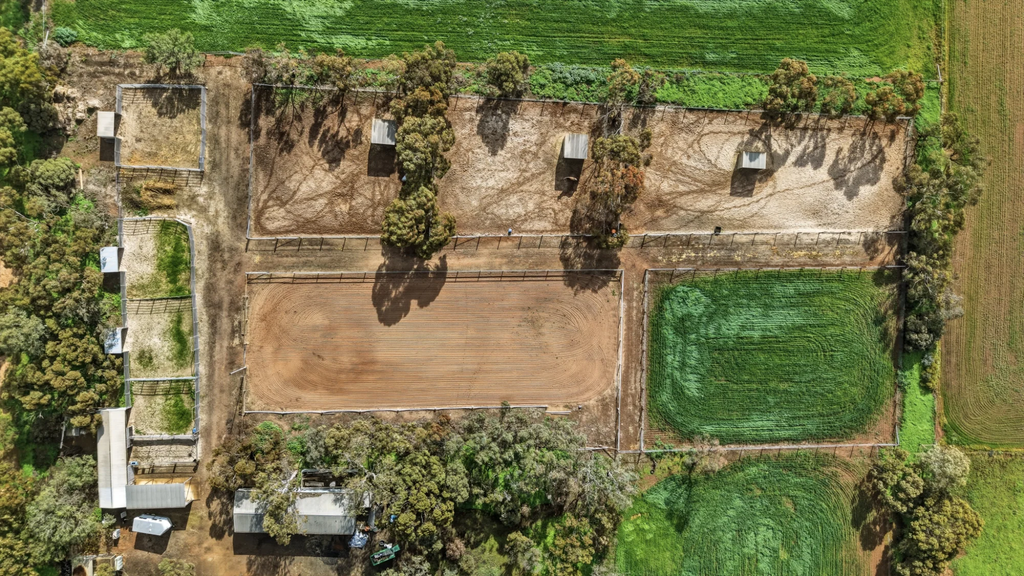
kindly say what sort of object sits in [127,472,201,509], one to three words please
shed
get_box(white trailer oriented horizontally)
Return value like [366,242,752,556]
[134,513,184,535]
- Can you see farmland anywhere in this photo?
Yes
